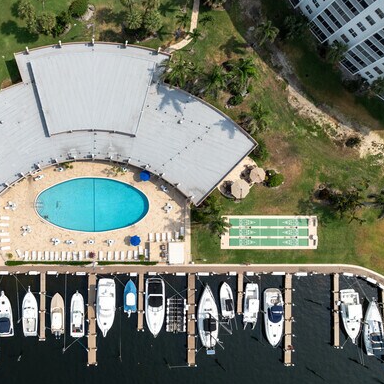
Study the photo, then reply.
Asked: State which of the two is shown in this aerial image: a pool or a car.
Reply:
pool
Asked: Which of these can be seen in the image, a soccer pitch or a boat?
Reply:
boat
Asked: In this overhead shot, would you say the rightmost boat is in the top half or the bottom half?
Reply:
bottom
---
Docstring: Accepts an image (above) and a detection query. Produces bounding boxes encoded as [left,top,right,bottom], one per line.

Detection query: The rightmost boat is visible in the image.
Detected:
[361,300,384,355]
